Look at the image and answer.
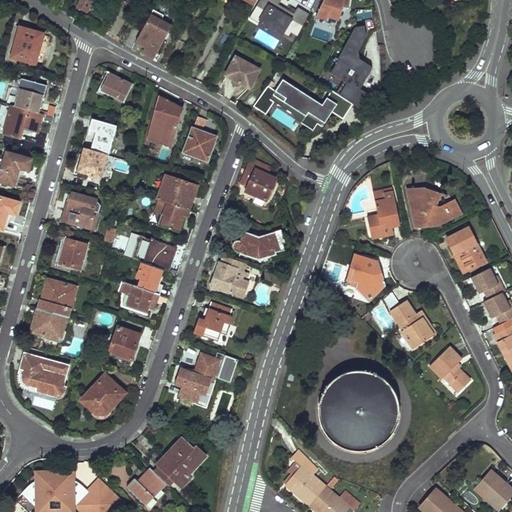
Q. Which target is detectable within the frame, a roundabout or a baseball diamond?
roundabout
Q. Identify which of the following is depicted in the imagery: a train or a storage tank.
storage tank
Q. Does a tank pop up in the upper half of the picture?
No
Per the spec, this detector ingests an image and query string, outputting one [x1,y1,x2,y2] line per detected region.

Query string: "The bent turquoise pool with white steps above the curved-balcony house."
[61,337,84,358]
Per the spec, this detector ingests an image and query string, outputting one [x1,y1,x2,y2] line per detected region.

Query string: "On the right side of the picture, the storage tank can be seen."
[319,372,401,454]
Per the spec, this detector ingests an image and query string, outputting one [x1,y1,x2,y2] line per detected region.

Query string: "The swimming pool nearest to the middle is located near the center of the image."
[256,282,270,306]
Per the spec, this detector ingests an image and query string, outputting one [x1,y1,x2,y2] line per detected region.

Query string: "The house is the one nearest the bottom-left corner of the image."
[18,471,88,512]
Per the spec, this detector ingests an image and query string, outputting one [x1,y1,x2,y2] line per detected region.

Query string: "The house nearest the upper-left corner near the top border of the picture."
[10,24,44,66]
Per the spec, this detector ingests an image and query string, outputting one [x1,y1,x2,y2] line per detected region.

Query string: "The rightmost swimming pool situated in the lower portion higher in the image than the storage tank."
[372,305,394,331]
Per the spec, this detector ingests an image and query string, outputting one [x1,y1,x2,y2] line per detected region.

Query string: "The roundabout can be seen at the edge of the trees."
[428,78,504,173]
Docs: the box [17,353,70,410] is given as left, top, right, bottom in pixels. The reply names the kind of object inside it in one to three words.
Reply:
house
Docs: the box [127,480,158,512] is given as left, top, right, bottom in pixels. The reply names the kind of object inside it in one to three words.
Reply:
building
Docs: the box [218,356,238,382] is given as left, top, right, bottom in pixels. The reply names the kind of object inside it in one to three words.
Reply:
swimming pool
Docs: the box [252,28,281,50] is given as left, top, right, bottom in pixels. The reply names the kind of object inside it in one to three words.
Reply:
swimming pool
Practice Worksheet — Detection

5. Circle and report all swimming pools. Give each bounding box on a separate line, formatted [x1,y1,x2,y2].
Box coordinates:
[352,186,368,214]
[157,145,172,160]
[331,264,342,282]
[355,11,374,21]
[61,337,84,358]
[252,28,281,50]
[218,356,238,382]
[141,196,151,206]
[270,106,296,128]
[310,26,334,42]
[113,160,127,173]
[0,80,6,100]
[372,305,394,331]
[256,282,270,306]
[97,312,114,328]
